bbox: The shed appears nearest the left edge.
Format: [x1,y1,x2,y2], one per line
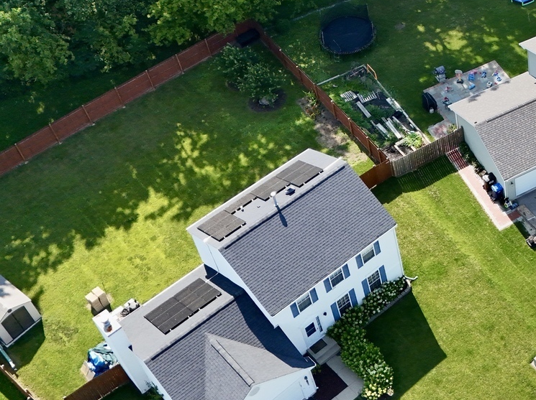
[0,275,44,348]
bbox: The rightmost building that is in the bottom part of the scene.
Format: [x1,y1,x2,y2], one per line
[92,148,425,400]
